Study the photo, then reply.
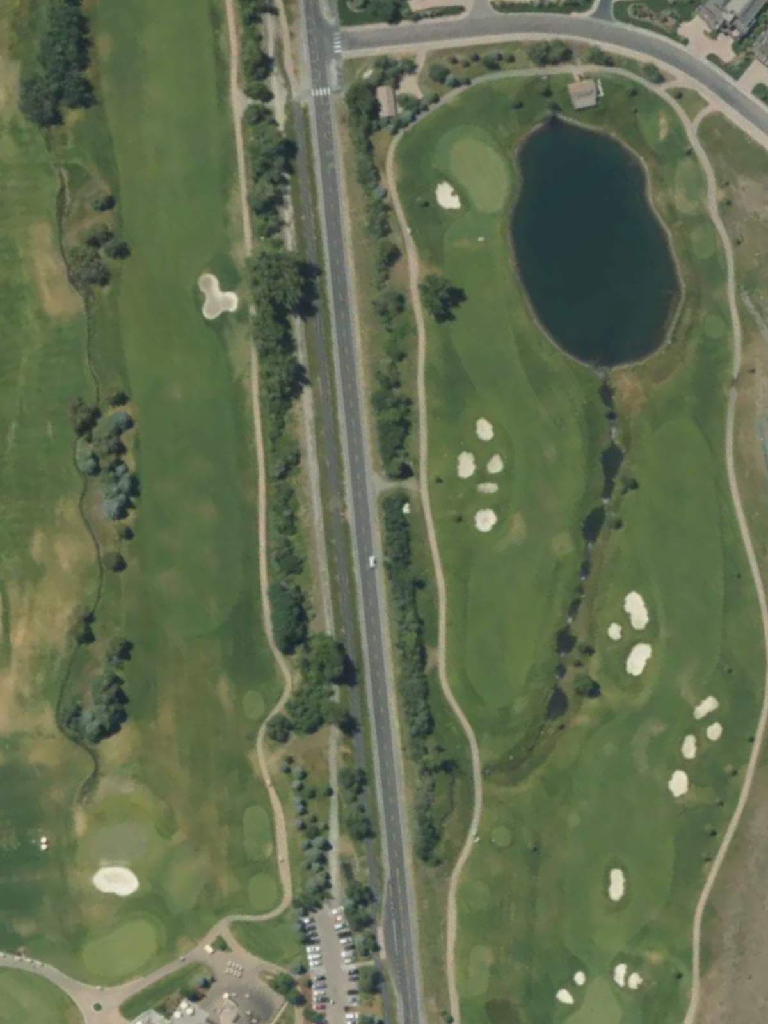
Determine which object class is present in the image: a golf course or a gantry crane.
golf course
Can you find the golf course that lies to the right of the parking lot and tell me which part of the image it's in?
right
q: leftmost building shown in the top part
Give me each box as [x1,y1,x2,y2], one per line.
[376,85,396,117]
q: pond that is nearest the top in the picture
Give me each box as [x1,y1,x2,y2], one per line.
[511,116,682,369]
